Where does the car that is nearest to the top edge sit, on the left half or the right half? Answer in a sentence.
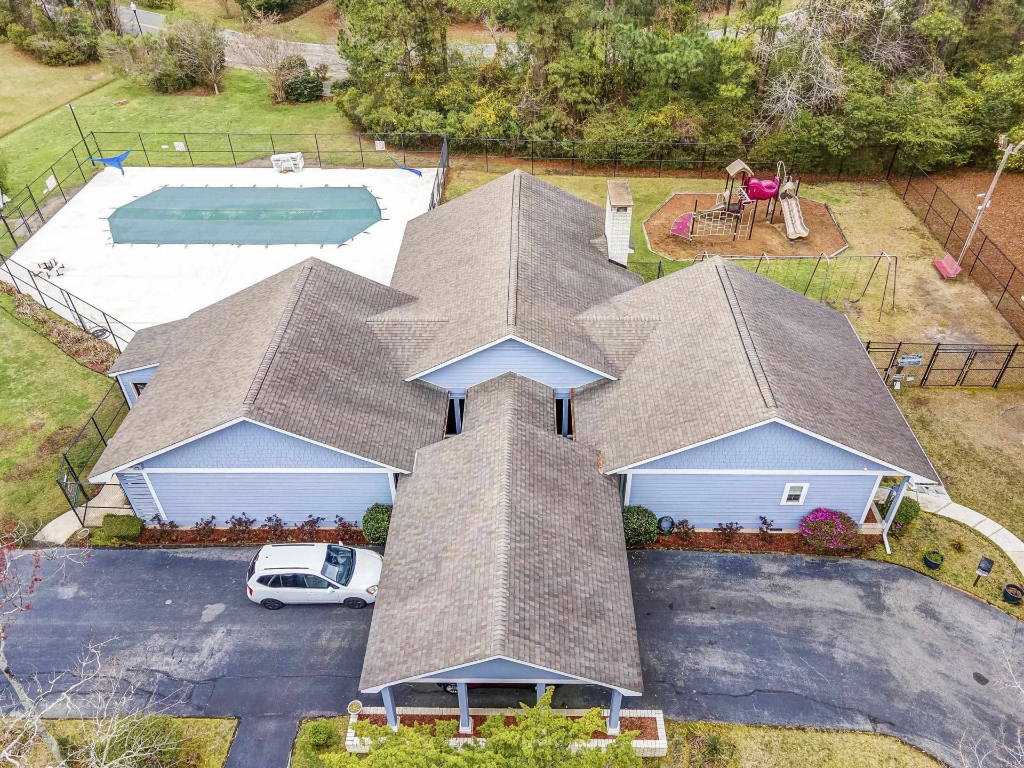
The car that is nearest to the top edge sits on the left side.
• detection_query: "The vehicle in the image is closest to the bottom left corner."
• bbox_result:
[242,540,384,608]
